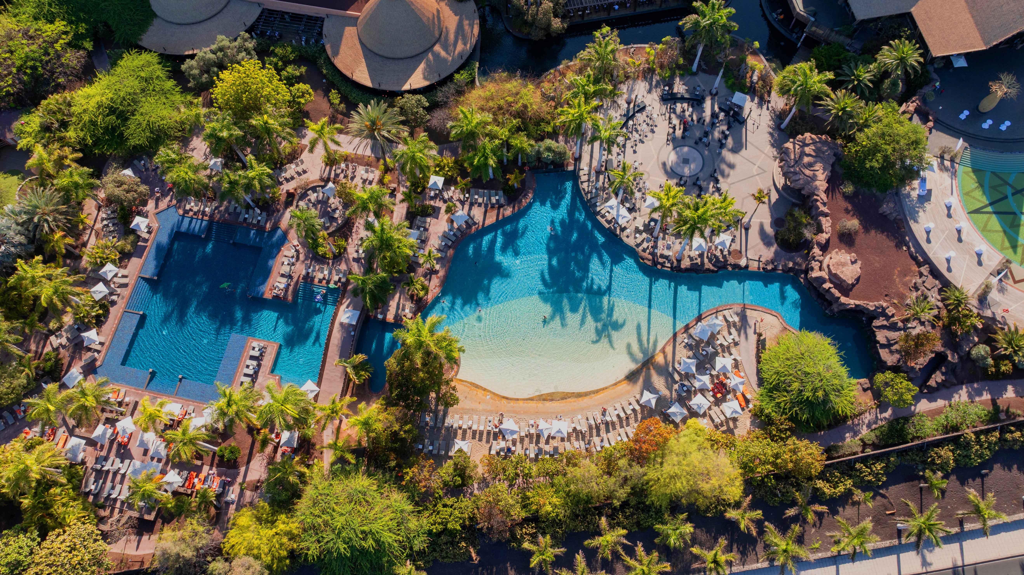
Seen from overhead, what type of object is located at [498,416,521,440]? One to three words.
umbrella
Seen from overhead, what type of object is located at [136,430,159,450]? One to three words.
umbrella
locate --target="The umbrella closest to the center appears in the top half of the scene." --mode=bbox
[449,208,471,229]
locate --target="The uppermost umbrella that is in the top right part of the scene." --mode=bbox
[946,55,968,75]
